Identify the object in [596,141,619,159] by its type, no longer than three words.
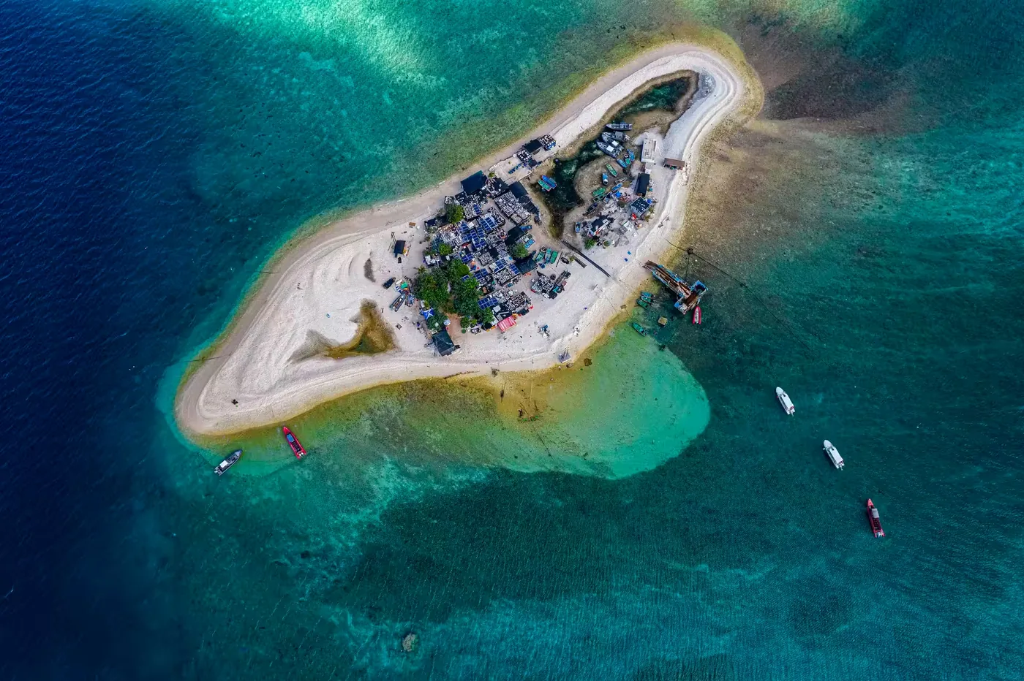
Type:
boat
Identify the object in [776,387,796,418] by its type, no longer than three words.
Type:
boat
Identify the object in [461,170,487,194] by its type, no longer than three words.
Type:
house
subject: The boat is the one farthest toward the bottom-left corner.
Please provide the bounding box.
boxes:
[212,450,242,478]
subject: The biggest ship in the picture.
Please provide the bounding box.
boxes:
[643,260,709,315]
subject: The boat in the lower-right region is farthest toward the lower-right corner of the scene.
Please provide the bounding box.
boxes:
[869,499,887,542]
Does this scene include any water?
Yes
